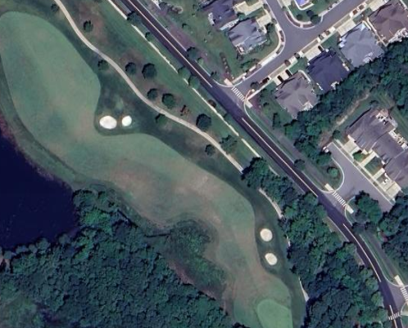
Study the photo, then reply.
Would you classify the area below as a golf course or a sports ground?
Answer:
golf course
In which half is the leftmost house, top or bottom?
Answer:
top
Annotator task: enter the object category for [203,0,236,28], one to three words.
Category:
house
